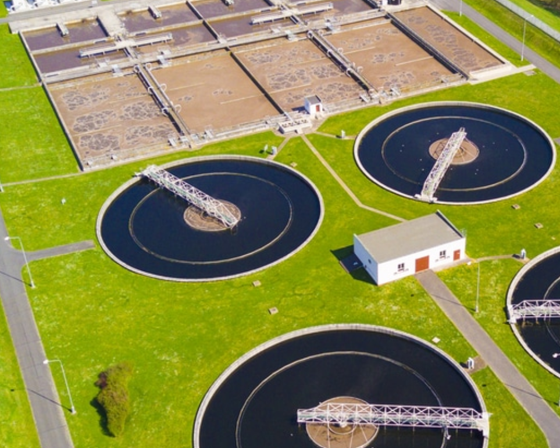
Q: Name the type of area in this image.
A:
industrial area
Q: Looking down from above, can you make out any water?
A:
Yes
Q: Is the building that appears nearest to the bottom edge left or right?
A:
right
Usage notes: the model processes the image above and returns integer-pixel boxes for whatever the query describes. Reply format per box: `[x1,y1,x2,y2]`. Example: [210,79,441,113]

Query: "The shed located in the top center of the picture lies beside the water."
[303,92,324,120]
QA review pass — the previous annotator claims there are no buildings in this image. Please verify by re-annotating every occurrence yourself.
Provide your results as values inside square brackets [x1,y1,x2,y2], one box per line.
[303,92,324,120]
[352,204,466,284]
